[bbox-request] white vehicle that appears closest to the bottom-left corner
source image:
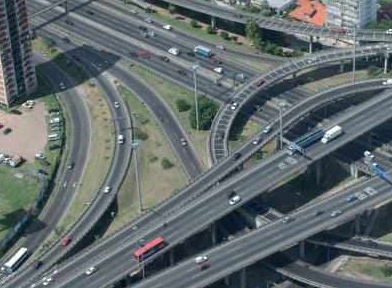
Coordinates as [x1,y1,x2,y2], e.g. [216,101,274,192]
[5,246,26,272]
